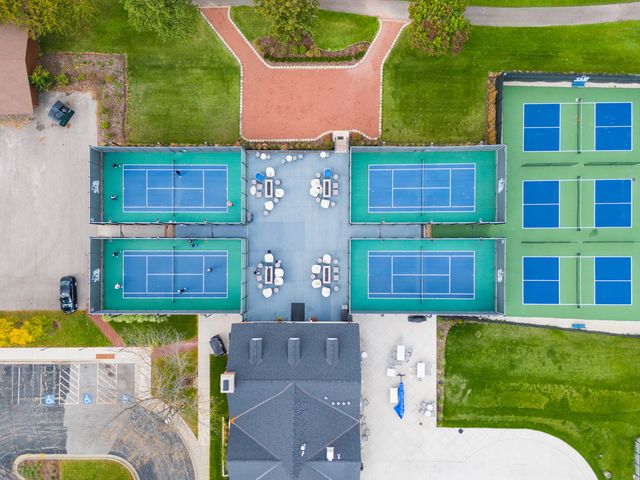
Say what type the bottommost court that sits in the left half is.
tennis court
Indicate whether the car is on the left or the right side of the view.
left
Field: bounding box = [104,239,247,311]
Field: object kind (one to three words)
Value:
tennis court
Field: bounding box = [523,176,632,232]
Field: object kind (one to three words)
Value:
sports court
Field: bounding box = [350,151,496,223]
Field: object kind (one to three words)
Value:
tennis court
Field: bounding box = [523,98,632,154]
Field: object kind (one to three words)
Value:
sports court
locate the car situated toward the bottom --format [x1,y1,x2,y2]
[58,276,78,314]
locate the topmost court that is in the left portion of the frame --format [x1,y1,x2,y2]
[104,152,246,223]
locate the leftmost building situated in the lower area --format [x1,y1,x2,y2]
[221,321,364,480]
